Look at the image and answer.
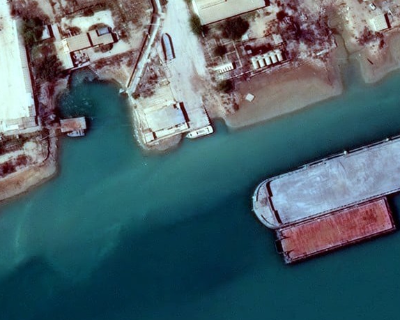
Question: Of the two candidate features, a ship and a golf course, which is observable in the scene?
ship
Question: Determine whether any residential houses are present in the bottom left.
No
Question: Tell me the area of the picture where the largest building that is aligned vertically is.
top left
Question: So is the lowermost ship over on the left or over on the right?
right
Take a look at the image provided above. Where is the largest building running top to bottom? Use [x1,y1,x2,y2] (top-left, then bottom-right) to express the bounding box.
[12,22,37,120]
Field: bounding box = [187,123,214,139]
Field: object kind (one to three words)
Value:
boat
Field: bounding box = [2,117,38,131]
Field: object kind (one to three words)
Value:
building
